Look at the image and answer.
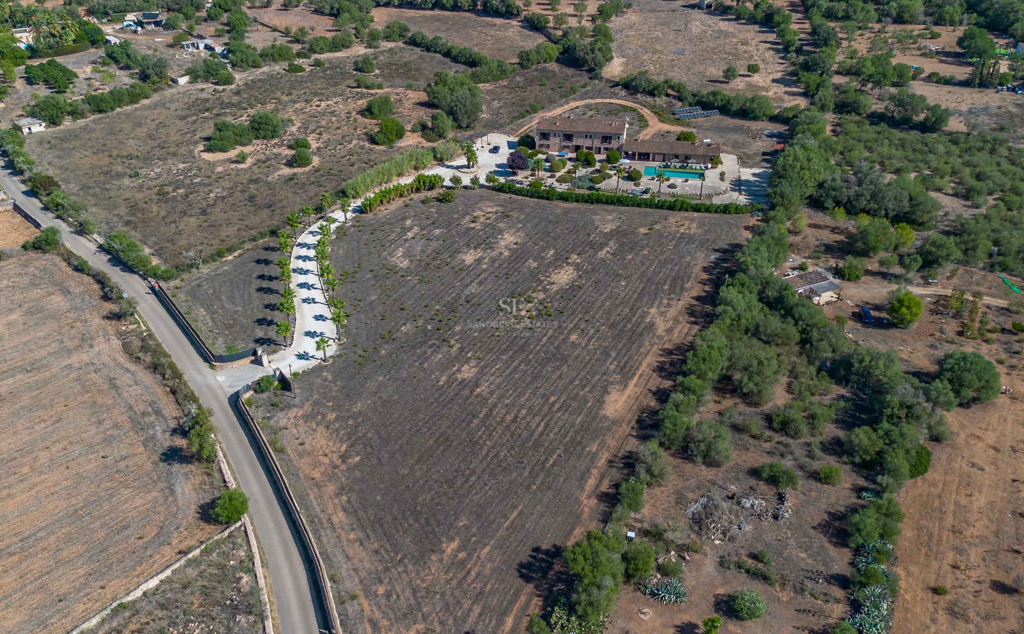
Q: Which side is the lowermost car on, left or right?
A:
right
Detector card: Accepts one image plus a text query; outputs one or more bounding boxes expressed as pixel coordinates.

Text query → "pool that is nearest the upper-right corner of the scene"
[642,165,706,181]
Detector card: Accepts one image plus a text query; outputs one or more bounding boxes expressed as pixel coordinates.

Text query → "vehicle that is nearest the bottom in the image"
[854,301,882,324]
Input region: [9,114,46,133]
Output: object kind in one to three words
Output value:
shed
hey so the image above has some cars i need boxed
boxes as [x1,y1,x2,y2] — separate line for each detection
[466,142,483,151]
[491,145,501,154]
[854,301,882,324]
